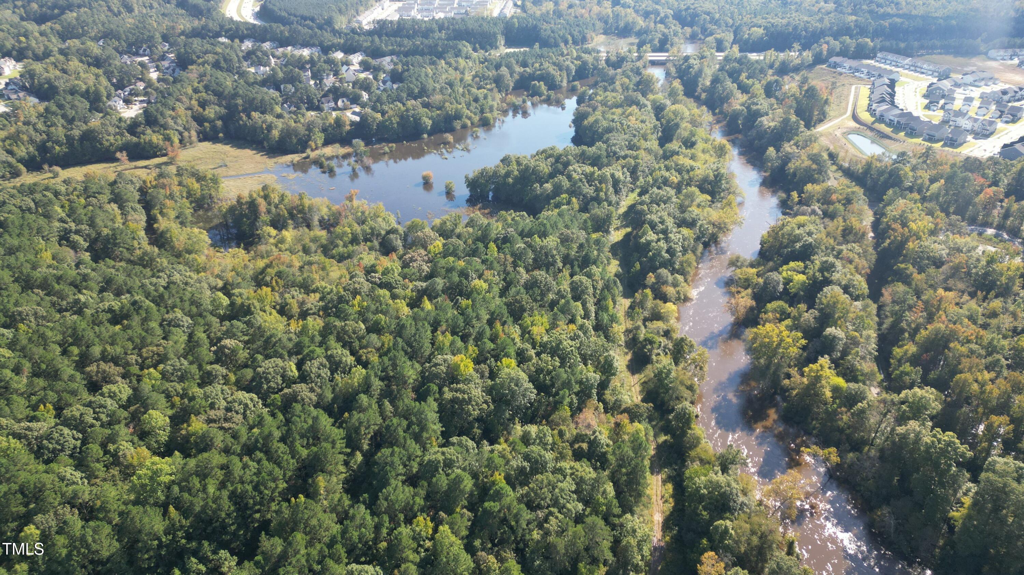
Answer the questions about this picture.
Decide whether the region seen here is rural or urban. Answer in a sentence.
From above, the setting appears rural.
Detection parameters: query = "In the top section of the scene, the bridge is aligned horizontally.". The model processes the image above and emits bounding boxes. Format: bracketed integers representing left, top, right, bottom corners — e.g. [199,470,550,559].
[596,51,791,65]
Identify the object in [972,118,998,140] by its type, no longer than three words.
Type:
house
